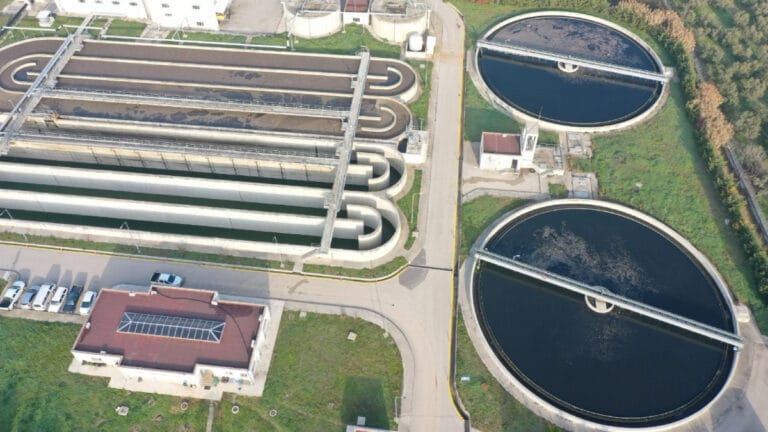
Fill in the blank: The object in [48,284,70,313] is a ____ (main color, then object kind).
white car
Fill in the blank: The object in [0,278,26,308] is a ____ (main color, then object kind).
white truck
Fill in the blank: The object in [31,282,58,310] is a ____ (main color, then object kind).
white vehicle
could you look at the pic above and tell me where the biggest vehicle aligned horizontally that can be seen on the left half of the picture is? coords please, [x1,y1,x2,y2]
[149,272,184,287]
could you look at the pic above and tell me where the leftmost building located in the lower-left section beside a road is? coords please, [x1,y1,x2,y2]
[70,286,270,386]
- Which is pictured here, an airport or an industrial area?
industrial area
